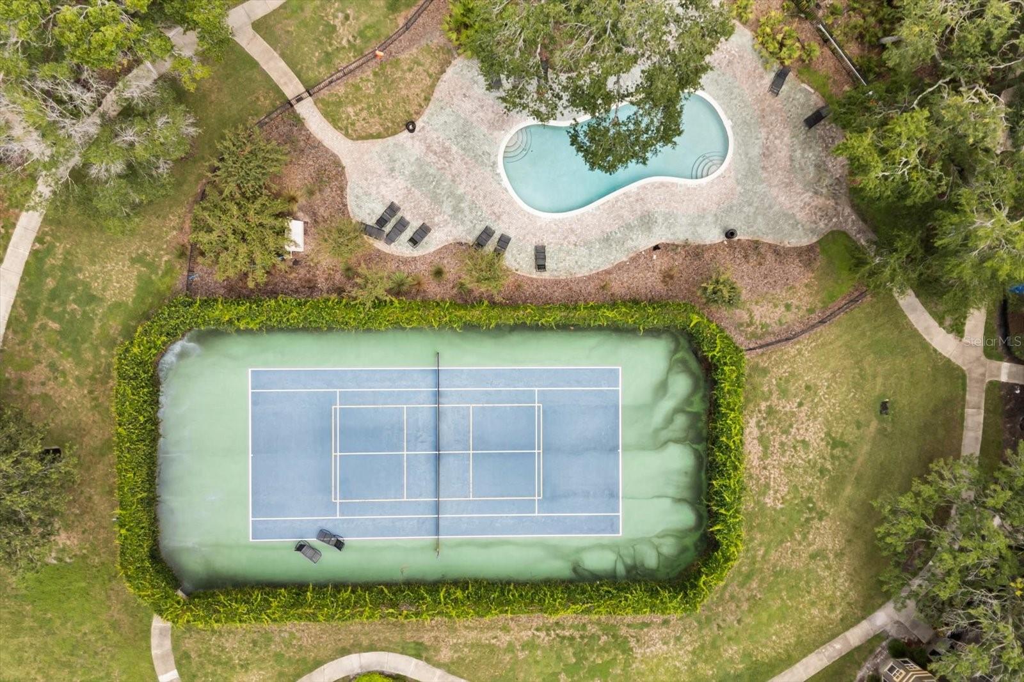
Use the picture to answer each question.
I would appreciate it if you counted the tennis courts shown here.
1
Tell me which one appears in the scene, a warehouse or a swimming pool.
swimming pool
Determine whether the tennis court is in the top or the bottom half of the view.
bottom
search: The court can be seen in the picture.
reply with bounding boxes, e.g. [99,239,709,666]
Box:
[155,325,711,591]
